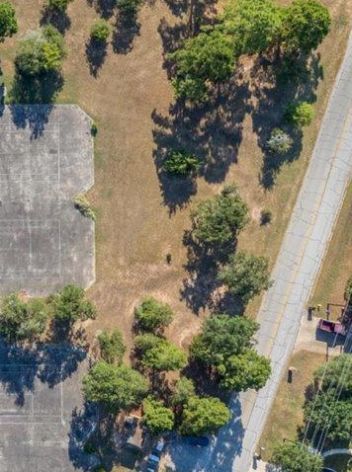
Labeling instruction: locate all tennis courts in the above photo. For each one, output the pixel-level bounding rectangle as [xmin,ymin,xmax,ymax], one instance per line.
[0,443,94,472]
[0,193,95,297]
[0,346,94,444]
[0,104,95,194]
